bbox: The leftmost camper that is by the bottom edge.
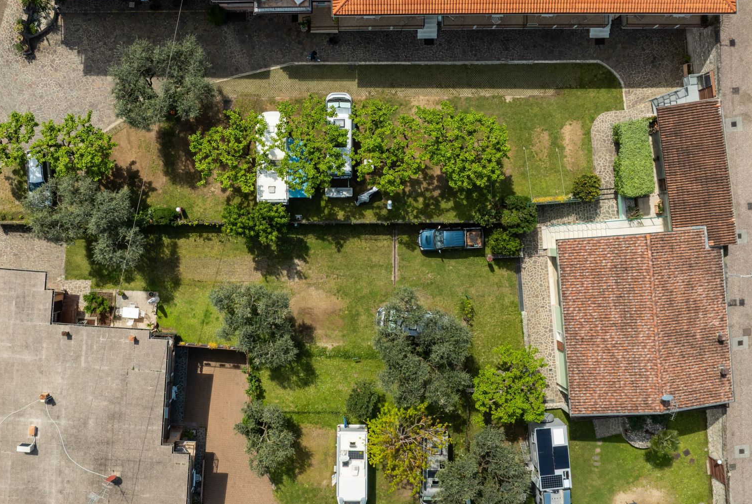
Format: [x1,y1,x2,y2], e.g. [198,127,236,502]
[329,419,369,504]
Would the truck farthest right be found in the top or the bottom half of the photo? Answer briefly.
bottom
